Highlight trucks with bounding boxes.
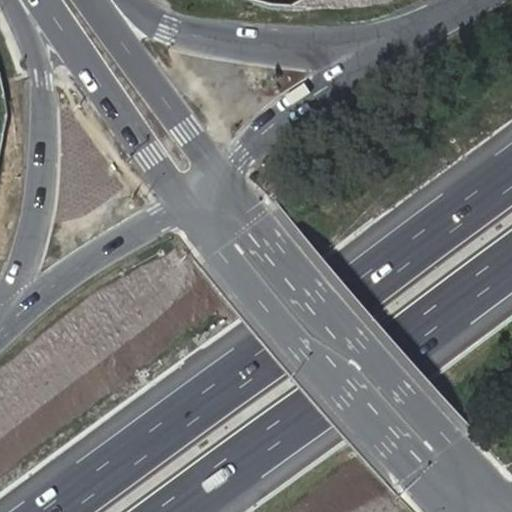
[202,462,238,493]
[274,82,311,114]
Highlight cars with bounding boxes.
[99,96,119,119]
[450,204,472,222]
[46,500,66,512]
[5,260,22,284]
[288,104,308,120]
[78,68,98,92]
[102,235,124,255]
[323,62,345,81]
[33,141,45,166]
[252,108,276,130]
[29,0,42,8]
[120,124,140,148]
[18,290,42,310]
[34,186,46,210]
[372,263,394,282]
[236,26,260,38]
[36,486,58,506]
[238,361,260,380]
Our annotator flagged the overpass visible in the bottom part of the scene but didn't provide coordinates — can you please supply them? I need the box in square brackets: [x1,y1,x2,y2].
[192,194,467,496]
